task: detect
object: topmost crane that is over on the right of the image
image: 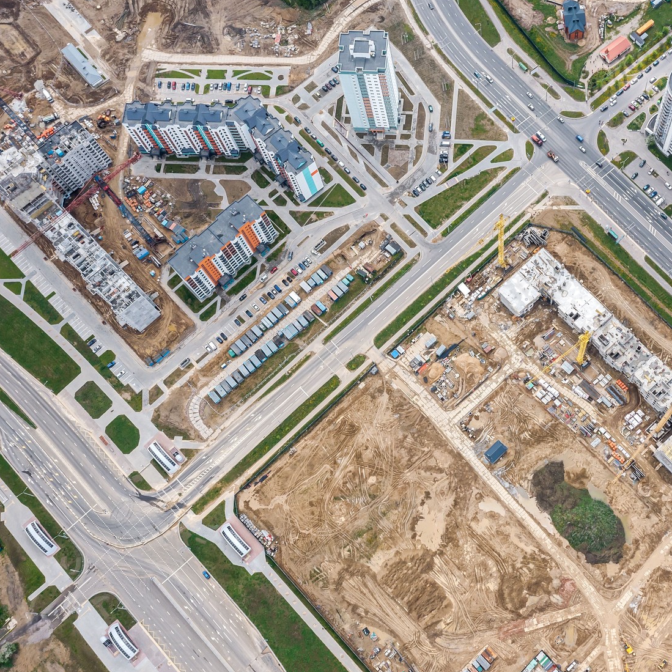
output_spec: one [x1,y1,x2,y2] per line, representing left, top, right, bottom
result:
[447,210,521,275]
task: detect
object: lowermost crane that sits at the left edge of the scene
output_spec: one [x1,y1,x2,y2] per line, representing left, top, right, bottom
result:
[13,151,166,256]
